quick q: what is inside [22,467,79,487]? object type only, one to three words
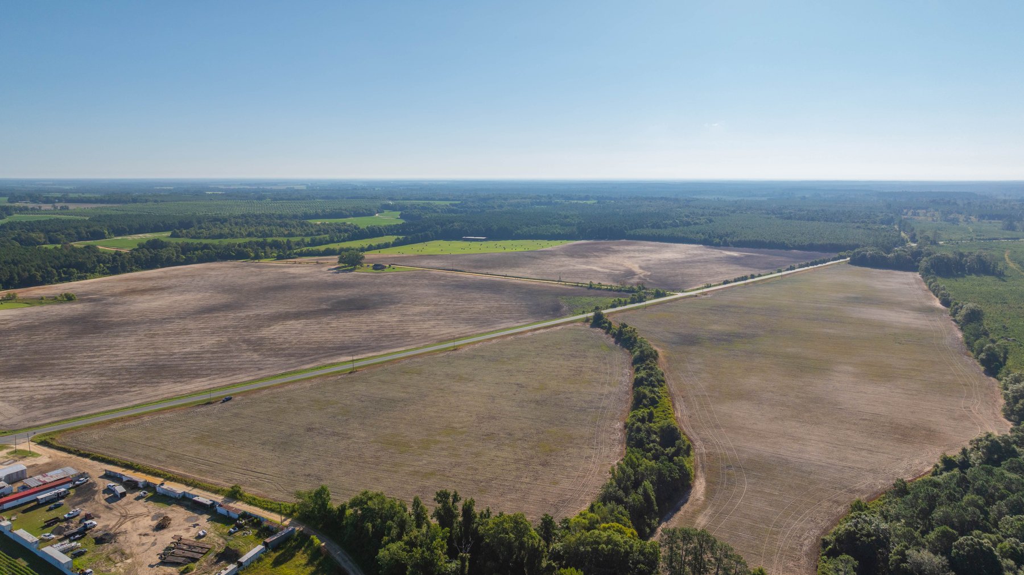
shed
